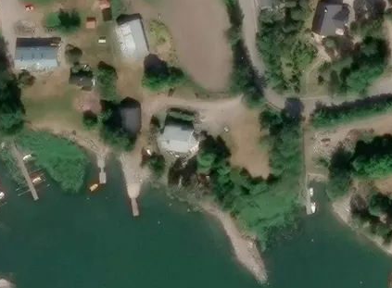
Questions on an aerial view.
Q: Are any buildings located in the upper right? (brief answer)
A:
Yes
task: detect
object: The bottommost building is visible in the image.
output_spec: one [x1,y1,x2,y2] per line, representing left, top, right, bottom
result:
[161,123,200,158]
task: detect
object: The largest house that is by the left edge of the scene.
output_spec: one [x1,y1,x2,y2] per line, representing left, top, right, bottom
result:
[14,45,58,66]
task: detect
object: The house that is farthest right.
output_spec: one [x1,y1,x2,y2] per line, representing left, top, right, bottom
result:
[315,0,351,36]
